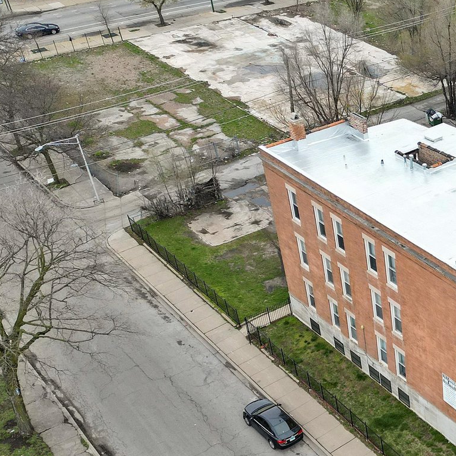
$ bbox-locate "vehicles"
[241,399,307,456]
[15,20,58,37]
